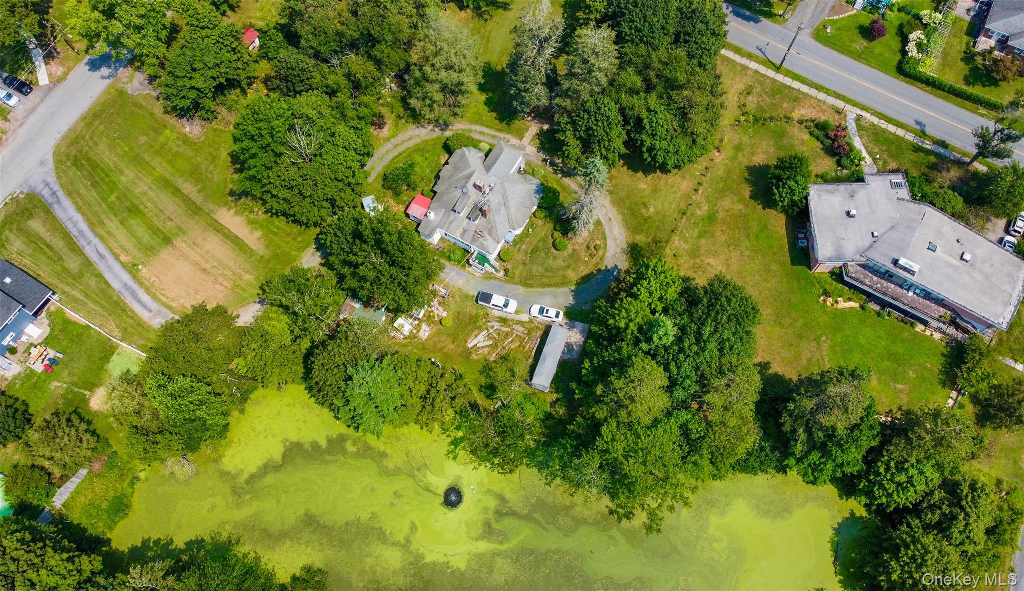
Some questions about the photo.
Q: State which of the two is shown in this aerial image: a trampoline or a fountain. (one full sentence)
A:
This aerial view contains a fountain.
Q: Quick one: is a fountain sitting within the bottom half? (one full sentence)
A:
Yes, within the bottom half there is a fountain.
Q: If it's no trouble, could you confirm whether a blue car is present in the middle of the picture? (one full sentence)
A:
No, no blue car can be made out in the middle of the picture.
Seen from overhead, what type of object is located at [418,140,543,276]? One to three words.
house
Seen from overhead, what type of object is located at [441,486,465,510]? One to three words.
fountain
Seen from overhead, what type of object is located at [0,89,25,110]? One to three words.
car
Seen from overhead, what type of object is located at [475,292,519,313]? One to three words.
truck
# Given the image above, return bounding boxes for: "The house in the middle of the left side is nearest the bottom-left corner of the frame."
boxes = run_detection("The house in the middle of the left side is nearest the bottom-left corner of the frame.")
[0,256,59,372]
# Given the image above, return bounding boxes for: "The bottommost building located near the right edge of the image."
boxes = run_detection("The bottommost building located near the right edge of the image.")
[803,172,1024,349]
